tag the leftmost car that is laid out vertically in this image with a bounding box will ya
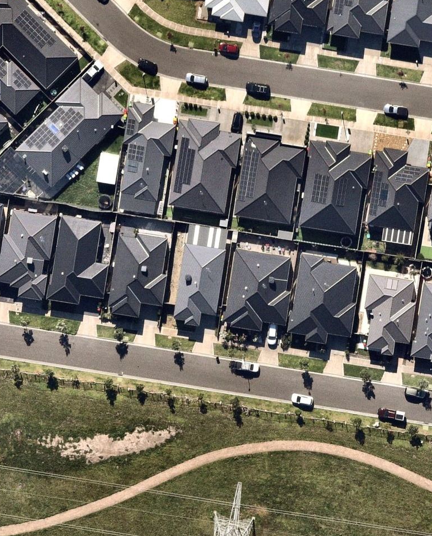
[231,109,243,134]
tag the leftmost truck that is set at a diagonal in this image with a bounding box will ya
[81,61,105,83]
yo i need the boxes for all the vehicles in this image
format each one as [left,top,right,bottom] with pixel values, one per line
[218,44,240,55]
[231,109,243,134]
[81,61,105,83]
[245,83,271,97]
[135,59,159,74]
[235,361,260,372]
[290,394,314,406]
[405,388,430,400]
[377,408,405,421]
[266,324,277,345]
[252,20,262,41]
[186,73,209,86]
[384,105,408,116]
